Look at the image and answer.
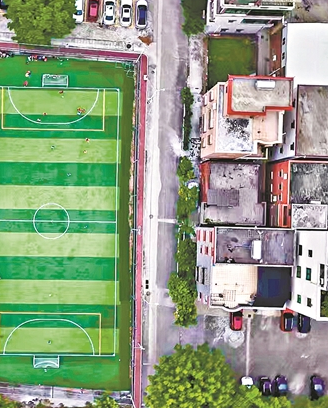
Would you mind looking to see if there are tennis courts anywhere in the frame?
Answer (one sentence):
No, there appears to be no tennis court in this shot.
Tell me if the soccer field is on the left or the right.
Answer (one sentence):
The soccer field appears in the left half of the scene.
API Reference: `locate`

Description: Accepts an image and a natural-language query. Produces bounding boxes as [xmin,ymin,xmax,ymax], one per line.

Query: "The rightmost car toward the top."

[135,0,148,28]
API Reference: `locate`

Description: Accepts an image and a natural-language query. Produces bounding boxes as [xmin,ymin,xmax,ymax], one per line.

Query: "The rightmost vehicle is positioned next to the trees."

[309,372,324,400]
